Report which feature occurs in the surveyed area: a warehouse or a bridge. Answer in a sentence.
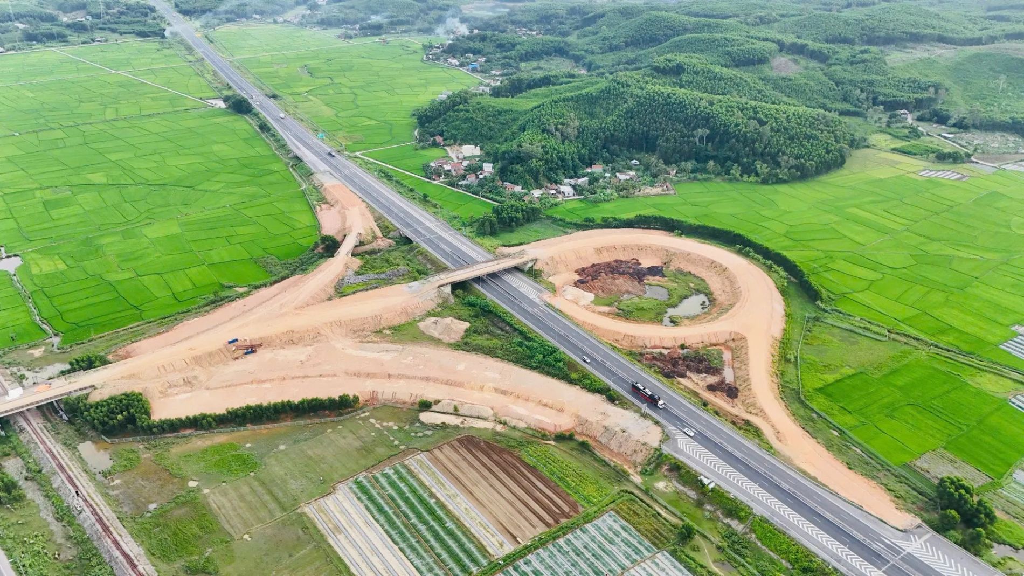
The one in the frame is a bridge.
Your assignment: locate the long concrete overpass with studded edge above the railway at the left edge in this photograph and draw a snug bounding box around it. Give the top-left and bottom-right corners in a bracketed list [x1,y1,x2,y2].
[0,369,98,424]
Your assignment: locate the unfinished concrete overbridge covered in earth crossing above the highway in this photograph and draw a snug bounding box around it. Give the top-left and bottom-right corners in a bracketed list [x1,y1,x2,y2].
[425,248,543,288]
